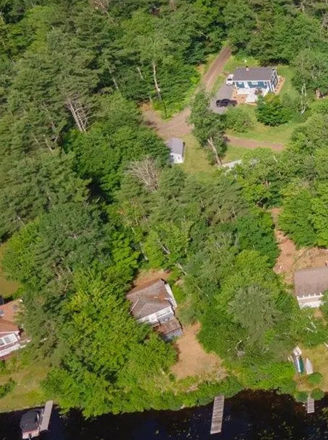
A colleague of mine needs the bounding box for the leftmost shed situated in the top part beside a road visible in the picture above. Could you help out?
[171,135,189,161]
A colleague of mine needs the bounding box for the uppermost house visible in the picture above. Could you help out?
[233,65,276,94]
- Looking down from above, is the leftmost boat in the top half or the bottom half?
bottom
